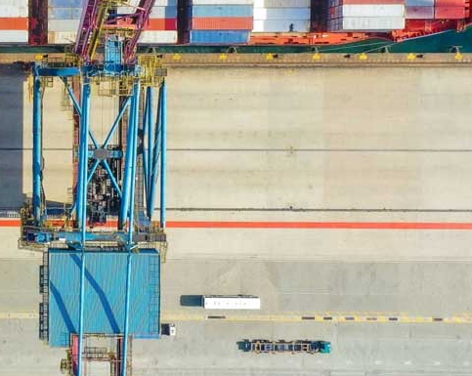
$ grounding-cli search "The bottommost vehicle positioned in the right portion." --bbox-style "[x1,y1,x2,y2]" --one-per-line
[244,339,330,353]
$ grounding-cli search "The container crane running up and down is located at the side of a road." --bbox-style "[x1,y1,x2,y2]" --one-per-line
[12,0,176,376]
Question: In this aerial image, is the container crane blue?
Yes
